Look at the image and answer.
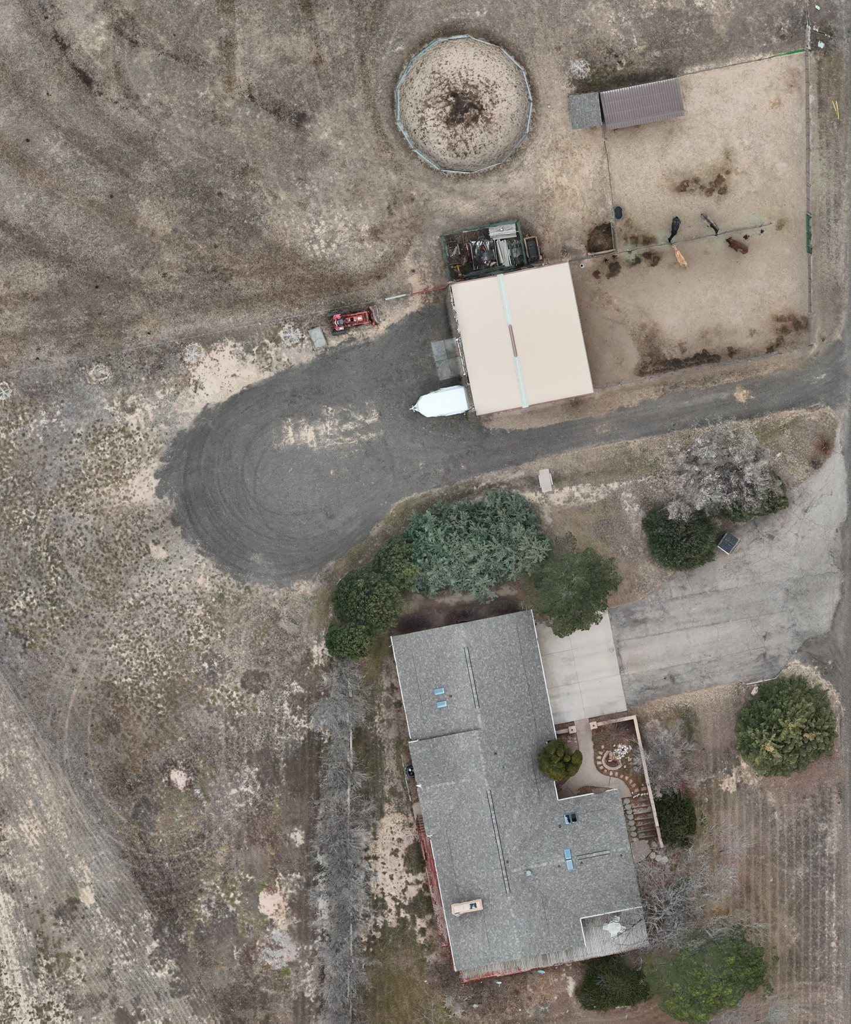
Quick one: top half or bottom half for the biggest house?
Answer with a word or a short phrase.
bottom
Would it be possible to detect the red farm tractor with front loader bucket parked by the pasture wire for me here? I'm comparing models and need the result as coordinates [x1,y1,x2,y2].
[331,309,379,336]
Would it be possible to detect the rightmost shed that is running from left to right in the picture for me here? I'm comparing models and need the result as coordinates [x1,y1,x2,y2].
[599,77,685,130]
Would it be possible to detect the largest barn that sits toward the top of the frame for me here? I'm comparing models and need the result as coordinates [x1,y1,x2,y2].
[450,261,595,416]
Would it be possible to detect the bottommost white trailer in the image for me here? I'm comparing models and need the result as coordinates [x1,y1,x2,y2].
[410,387,470,418]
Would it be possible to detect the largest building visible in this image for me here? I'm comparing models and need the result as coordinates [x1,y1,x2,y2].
[390,610,642,971]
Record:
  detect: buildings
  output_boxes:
[599,77,685,130]
[450,261,595,416]
[390,610,642,971]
